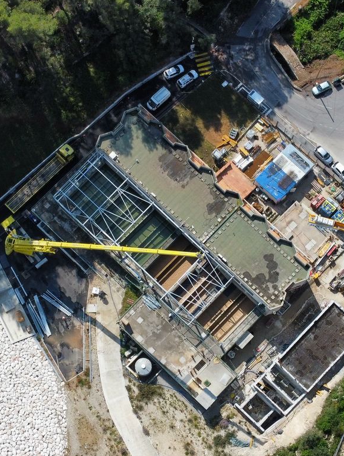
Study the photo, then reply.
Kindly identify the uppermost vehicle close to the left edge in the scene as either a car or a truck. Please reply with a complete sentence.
I'd identify the uppermost vehicle close to the left edge as a truck.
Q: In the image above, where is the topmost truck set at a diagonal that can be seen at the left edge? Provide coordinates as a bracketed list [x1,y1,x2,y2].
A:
[6,138,79,213]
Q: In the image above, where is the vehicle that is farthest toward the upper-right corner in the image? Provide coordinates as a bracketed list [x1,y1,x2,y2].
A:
[310,79,334,97]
